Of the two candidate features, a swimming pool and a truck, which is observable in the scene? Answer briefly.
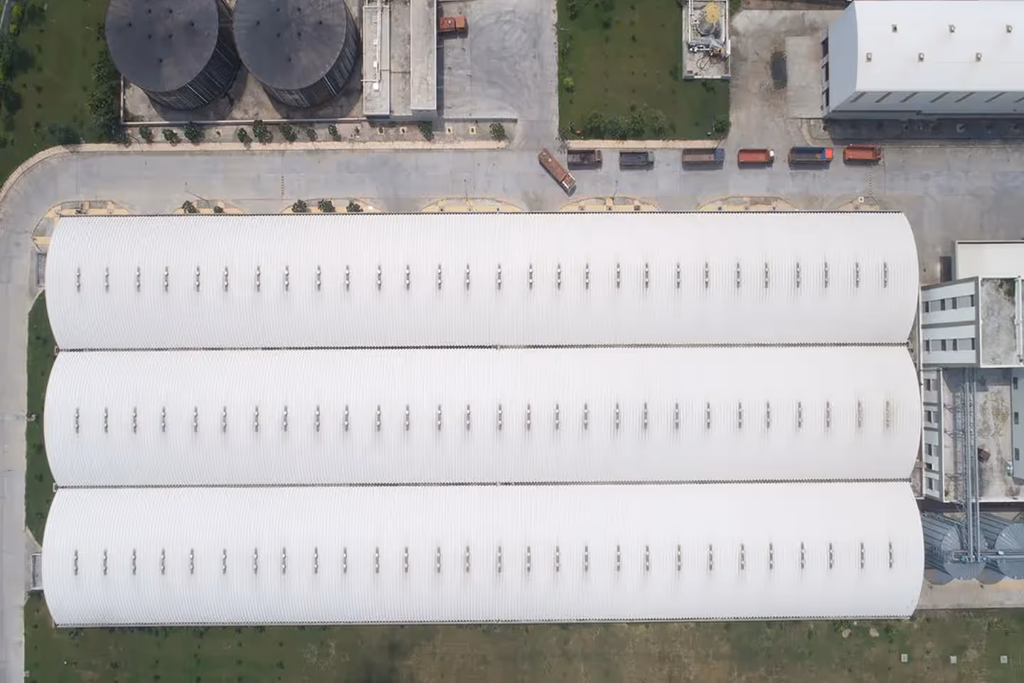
truck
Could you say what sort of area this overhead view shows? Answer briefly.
industrial area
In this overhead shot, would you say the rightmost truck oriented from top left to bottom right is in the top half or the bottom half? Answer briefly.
top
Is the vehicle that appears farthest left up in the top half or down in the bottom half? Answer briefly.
top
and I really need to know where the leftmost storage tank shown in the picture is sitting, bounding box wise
[104,0,241,112]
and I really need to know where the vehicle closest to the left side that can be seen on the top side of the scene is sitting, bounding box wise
[437,17,468,37]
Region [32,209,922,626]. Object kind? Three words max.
warehouse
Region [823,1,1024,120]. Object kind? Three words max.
shed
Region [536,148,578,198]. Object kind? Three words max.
truck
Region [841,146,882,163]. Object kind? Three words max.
vehicle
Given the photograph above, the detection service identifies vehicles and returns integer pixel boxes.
[841,146,882,163]
[787,147,833,165]
[736,148,774,166]
[681,148,724,166]
[536,148,578,198]
[567,150,602,168]
[619,151,653,169]
[437,17,468,37]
